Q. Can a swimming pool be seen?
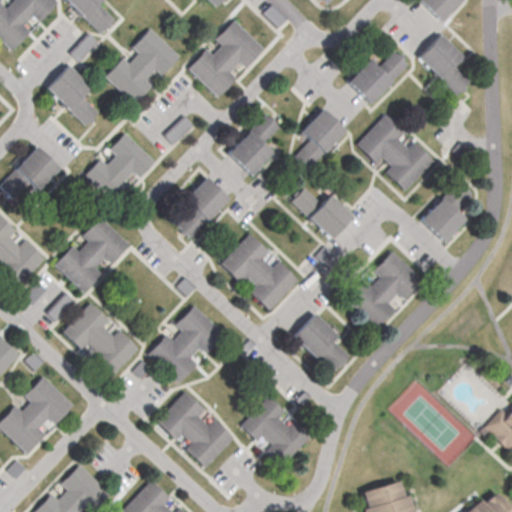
Yes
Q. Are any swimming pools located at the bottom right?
Yes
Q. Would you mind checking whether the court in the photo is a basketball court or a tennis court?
tennis court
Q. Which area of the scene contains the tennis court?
bottom right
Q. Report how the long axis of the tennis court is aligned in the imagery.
at an angle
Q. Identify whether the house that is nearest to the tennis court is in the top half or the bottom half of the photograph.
bottom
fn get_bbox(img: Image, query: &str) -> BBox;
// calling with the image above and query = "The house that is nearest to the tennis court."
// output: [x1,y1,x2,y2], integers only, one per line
[476,408,512,452]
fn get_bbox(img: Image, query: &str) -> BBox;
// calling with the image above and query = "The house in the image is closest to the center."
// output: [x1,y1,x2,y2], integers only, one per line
[222,234,298,310]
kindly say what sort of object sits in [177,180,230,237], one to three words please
house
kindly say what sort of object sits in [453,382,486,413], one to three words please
swimming pool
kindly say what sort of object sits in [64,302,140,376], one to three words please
house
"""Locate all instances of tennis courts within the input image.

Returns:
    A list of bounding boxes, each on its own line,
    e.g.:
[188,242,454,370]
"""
[388,380,474,465]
